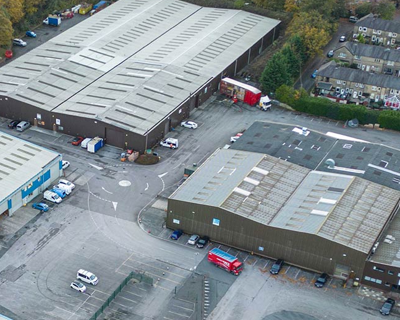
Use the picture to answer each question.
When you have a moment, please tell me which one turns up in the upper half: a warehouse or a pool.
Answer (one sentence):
The one visible in the upper half is a warehouse.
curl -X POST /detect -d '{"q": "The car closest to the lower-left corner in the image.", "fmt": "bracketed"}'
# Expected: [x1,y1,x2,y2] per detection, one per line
[68,279,87,293]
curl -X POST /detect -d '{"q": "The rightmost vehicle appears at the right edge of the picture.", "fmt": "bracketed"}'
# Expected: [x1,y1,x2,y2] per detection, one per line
[379,299,393,314]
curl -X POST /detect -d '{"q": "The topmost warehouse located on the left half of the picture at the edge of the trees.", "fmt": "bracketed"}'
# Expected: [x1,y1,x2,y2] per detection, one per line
[0,0,281,152]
